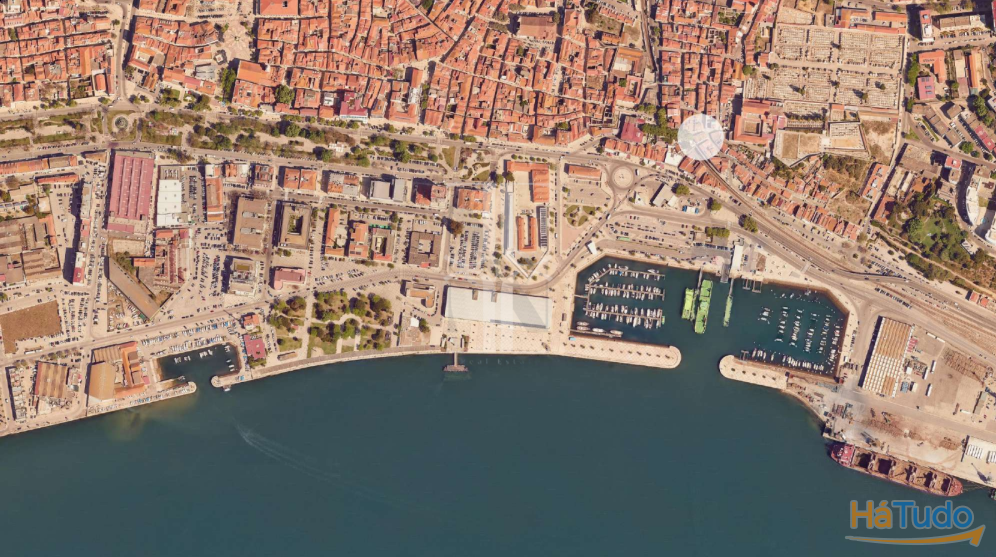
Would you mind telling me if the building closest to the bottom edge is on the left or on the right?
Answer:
right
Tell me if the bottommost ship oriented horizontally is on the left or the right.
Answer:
right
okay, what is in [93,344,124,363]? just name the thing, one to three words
shed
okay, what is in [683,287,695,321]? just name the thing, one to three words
ship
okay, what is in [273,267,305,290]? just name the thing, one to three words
building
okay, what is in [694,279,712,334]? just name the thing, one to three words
ship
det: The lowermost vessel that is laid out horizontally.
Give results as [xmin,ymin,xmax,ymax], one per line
[830,447,963,497]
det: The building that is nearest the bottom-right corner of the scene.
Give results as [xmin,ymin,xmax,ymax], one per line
[962,436,996,471]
